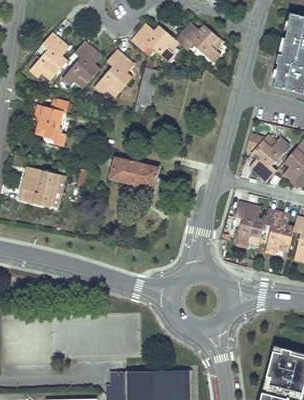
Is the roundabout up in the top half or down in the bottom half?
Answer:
bottom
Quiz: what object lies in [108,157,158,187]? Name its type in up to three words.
house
